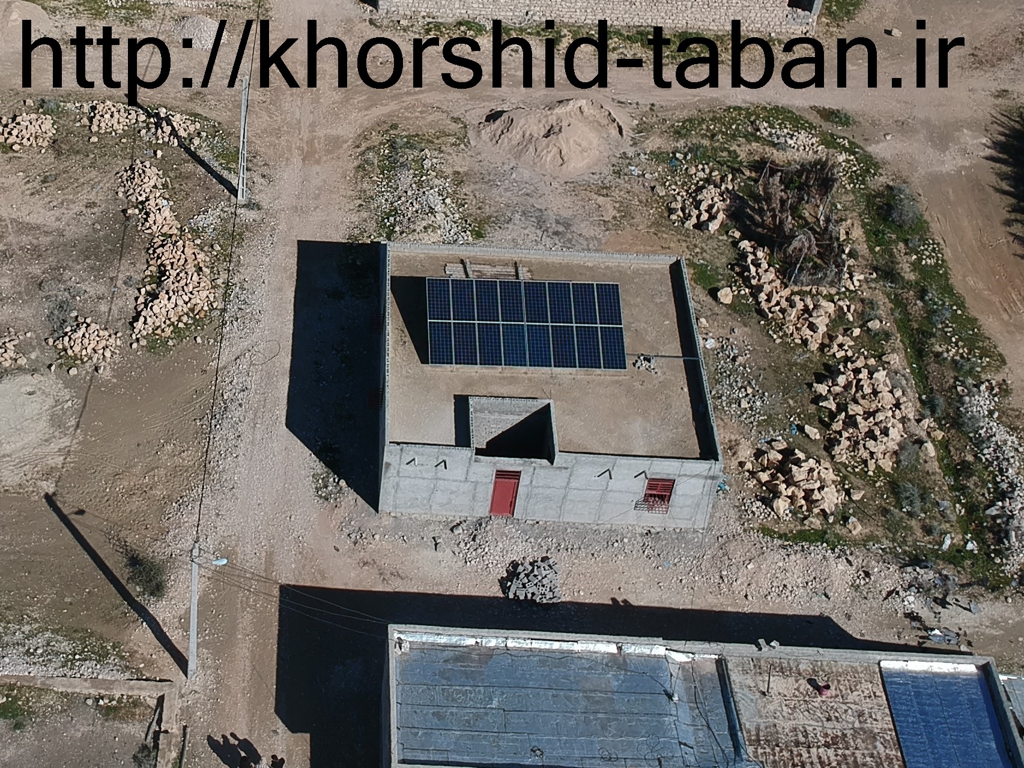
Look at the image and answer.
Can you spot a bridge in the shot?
No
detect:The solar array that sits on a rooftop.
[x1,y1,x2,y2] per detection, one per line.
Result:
[427,276,627,372]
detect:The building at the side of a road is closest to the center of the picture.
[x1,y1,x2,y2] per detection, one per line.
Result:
[374,241,724,531]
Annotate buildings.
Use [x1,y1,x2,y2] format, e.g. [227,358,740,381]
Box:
[381,624,1018,768]
[374,241,724,531]
[377,0,823,34]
